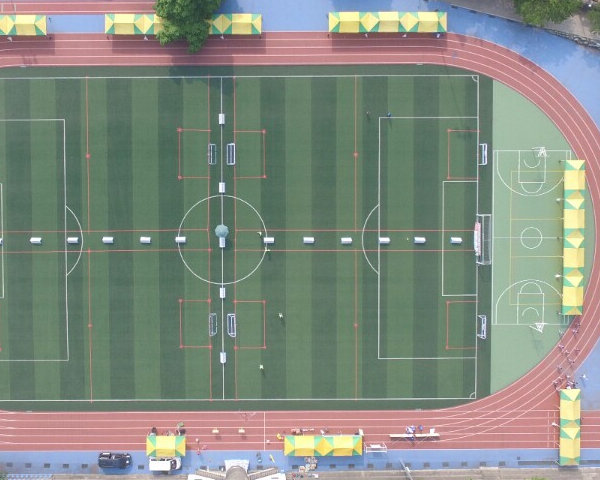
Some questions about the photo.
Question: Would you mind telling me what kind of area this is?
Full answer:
This image shows a sports ground.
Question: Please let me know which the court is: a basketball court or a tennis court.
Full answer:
It looks like the court is a basketball court.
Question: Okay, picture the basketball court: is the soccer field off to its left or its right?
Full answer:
The soccer field can be seen on the left of the basketball court.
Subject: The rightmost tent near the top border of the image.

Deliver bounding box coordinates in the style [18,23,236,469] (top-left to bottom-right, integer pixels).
[405,11,447,36]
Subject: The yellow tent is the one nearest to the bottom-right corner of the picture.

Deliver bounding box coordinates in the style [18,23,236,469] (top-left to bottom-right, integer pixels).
[553,424,579,466]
